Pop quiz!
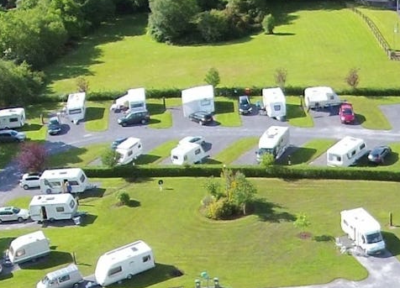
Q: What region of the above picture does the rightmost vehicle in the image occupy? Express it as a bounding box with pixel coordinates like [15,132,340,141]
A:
[367,148,393,164]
